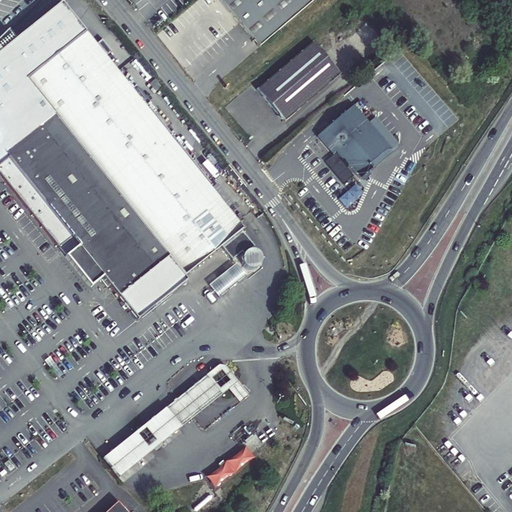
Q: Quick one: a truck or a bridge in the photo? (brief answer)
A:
truck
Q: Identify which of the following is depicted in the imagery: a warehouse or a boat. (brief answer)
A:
warehouse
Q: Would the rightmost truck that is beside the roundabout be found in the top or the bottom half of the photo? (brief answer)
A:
bottom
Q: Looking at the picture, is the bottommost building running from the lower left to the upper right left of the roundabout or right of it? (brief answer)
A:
left of it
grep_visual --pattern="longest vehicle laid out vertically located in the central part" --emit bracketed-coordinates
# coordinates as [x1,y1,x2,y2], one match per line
[300,262,316,303]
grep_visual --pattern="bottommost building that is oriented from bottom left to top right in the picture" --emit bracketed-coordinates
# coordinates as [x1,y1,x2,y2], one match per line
[104,362,248,476]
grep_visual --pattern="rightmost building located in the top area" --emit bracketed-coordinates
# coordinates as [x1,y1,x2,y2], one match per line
[318,104,398,208]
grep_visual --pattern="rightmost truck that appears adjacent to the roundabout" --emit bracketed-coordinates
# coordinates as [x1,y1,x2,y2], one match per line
[452,369,486,402]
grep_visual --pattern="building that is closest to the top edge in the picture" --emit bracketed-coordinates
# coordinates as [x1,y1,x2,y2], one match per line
[222,0,316,48]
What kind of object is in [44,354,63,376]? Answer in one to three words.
vehicle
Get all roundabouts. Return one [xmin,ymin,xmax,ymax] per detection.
[296,282,434,420]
